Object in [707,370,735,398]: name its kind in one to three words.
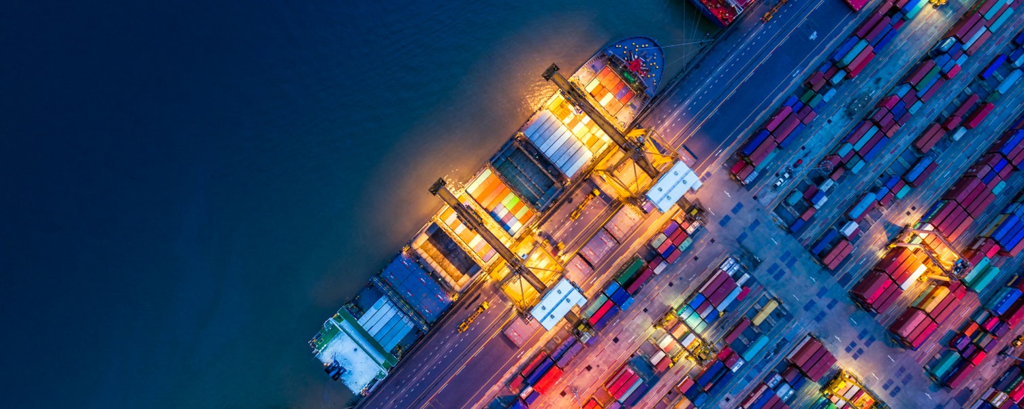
shipping container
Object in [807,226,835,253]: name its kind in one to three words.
shipping container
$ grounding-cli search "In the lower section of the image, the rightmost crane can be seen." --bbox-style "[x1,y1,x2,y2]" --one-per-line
[887,223,970,283]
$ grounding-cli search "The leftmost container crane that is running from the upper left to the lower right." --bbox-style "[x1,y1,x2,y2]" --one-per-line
[430,177,602,346]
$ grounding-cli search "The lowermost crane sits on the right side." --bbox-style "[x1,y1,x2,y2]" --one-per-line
[821,370,885,409]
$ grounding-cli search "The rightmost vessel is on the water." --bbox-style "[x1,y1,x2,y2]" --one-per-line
[688,0,754,27]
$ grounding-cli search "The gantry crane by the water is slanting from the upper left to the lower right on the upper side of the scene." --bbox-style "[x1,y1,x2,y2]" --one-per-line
[544,61,714,232]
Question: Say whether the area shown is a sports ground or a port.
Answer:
port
